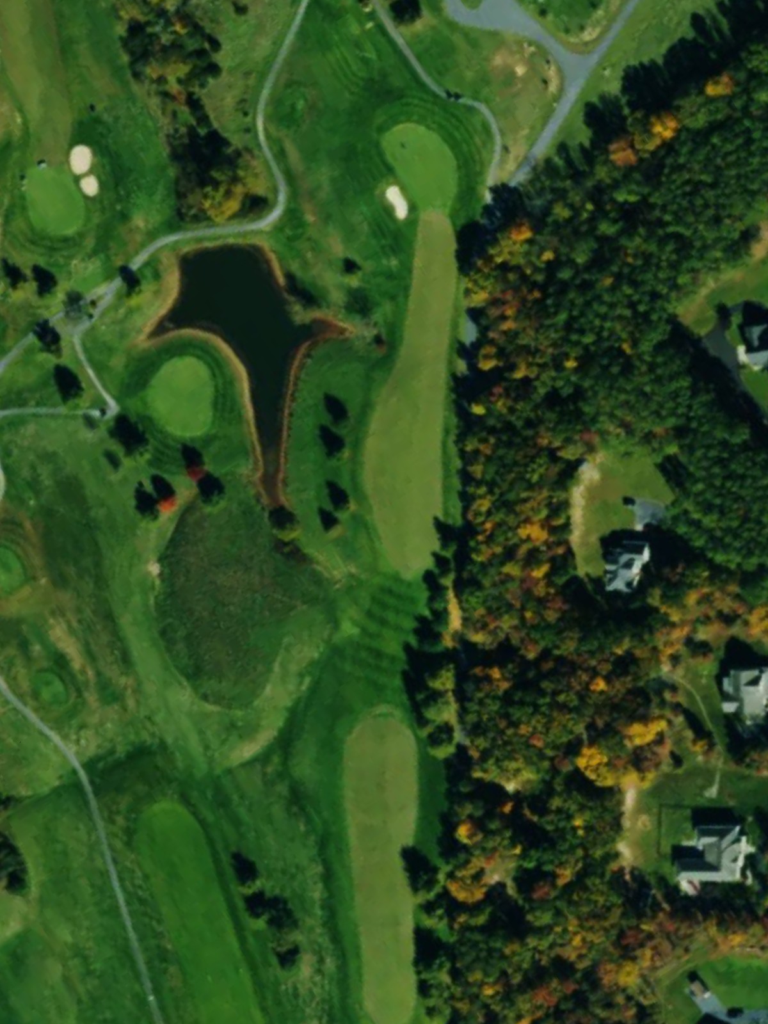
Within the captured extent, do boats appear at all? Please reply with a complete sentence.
No, I find no boat anywhere in the image.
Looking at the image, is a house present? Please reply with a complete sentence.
Yes, there's a house here.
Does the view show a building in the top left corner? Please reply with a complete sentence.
No, there's no building to be seen in the top left corner.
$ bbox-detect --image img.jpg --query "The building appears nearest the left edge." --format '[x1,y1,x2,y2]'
[607,542,652,591]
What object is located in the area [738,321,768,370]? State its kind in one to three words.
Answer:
house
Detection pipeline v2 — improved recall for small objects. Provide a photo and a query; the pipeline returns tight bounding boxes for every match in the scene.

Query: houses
[677,828,753,894]
[607,542,652,591]
[738,321,768,370]
[723,671,768,718]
